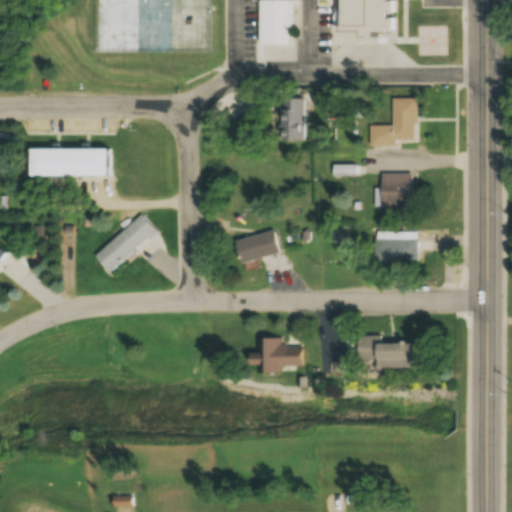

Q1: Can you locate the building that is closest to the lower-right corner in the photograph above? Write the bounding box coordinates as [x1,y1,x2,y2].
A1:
[360,334,412,378]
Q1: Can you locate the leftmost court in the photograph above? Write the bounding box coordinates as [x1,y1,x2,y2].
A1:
[98,0,138,52]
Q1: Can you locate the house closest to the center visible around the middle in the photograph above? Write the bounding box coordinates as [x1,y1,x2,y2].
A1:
[236,230,280,270]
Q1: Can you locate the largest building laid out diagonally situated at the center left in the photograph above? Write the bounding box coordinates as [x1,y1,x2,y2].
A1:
[96,212,160,276]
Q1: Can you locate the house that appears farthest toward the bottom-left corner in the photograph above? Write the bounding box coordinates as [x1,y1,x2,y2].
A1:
[111,494,136,508]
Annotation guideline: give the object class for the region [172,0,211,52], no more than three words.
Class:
sports court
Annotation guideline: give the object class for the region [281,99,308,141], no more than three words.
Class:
house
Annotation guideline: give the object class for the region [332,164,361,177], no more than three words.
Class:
shed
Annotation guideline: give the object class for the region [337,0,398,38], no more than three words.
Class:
building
